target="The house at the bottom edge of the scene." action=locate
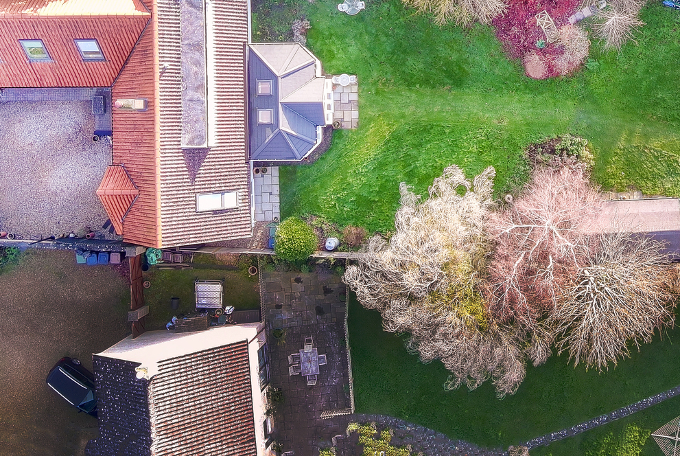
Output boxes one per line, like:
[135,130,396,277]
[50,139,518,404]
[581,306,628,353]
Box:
[87,318,277,456]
